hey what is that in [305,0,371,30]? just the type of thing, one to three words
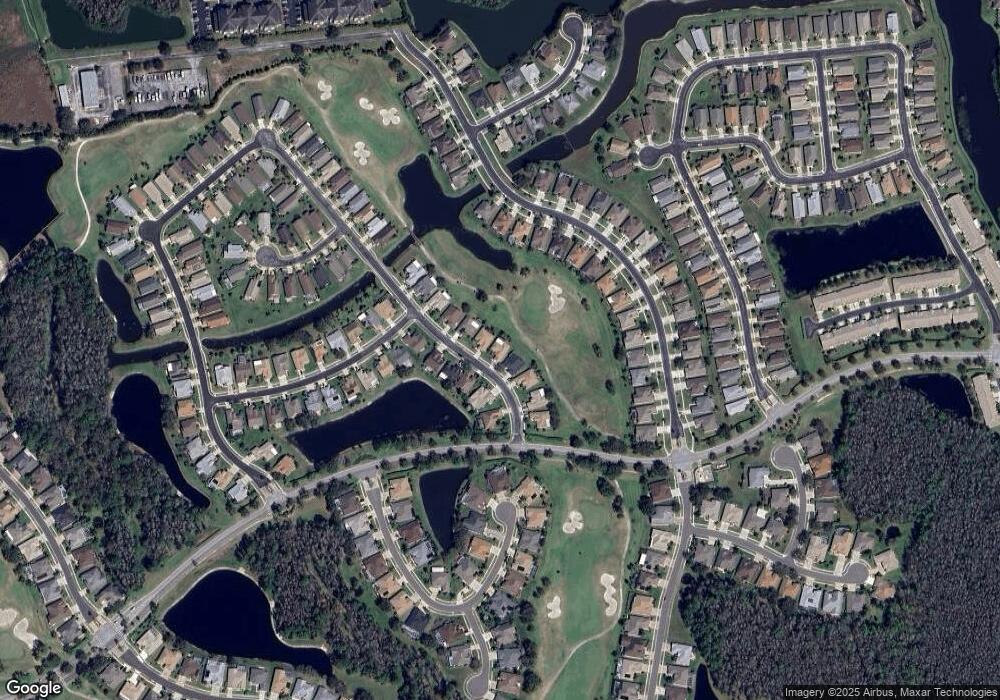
building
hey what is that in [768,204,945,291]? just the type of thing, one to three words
pond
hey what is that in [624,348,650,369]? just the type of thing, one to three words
house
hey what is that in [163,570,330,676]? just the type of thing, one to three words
pond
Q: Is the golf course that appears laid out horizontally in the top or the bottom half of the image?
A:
top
